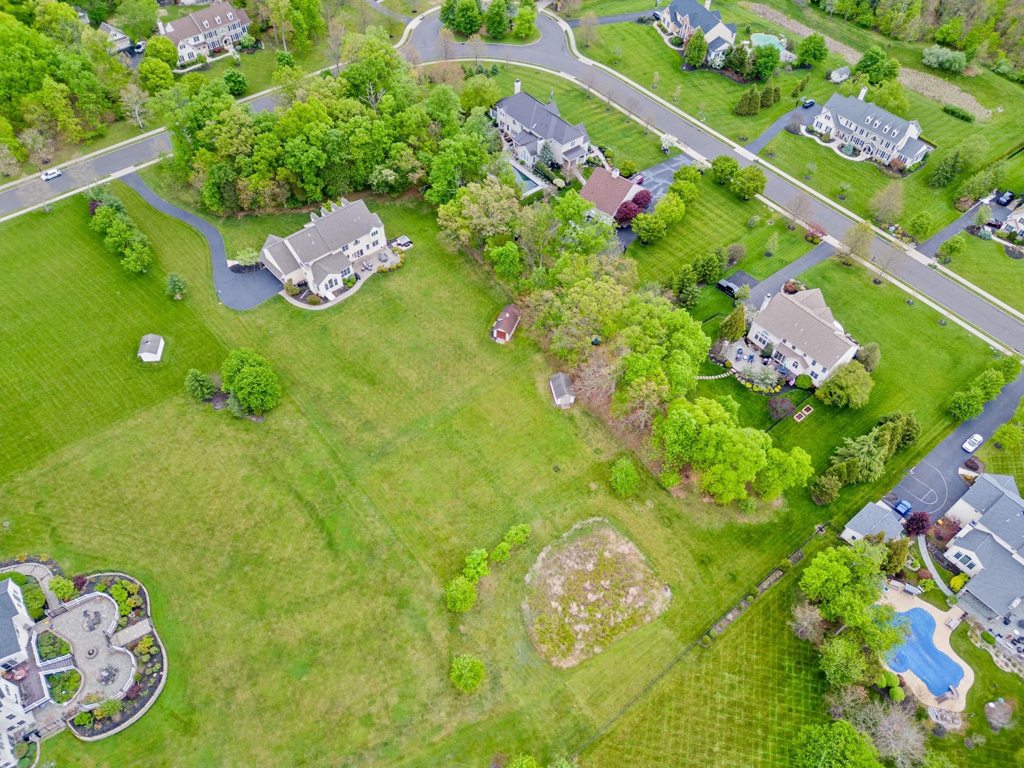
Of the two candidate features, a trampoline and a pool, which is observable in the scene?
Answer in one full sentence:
Looking from above, you can make out a pool.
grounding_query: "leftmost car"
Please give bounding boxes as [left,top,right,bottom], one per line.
[40,166,61,179]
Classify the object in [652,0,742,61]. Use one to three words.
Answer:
house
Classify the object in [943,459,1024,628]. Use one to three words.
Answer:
house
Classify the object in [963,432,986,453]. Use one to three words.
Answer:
car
